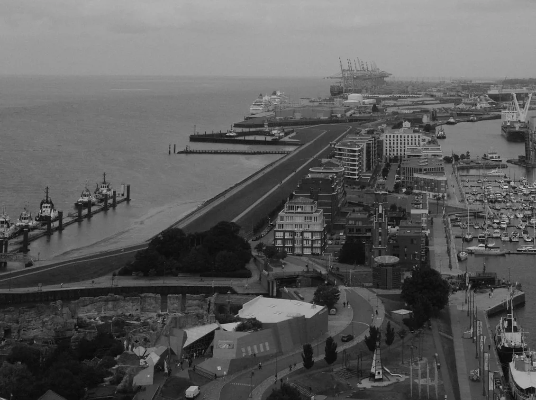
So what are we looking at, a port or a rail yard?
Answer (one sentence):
It's a port.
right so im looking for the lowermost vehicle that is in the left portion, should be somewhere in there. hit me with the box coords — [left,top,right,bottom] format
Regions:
[185,382,201,396]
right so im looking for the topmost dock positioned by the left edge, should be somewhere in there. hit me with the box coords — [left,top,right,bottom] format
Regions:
[0,198,131,258]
